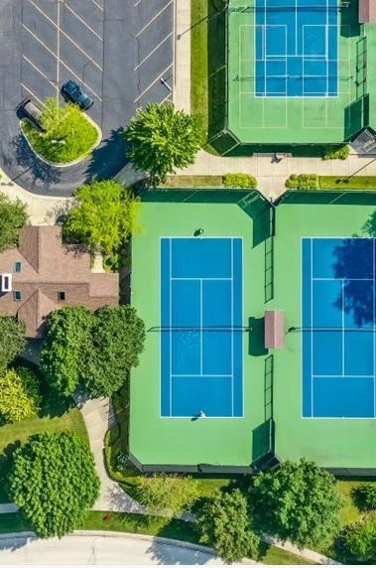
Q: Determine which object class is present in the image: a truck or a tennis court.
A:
tennis court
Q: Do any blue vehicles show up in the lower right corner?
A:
No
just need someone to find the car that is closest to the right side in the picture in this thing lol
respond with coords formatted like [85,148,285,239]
[59,79,94,109]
